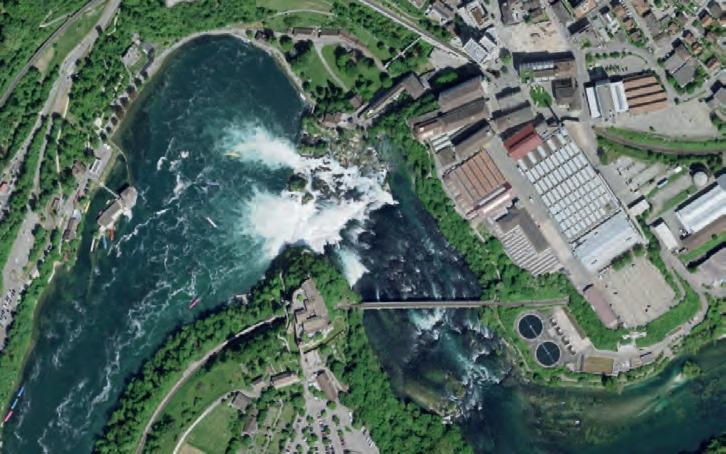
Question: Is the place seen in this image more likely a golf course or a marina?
marina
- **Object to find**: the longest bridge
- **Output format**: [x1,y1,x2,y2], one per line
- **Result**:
[340,297,569,310]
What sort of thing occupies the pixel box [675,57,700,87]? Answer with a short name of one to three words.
building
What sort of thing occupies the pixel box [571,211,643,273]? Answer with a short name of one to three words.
building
